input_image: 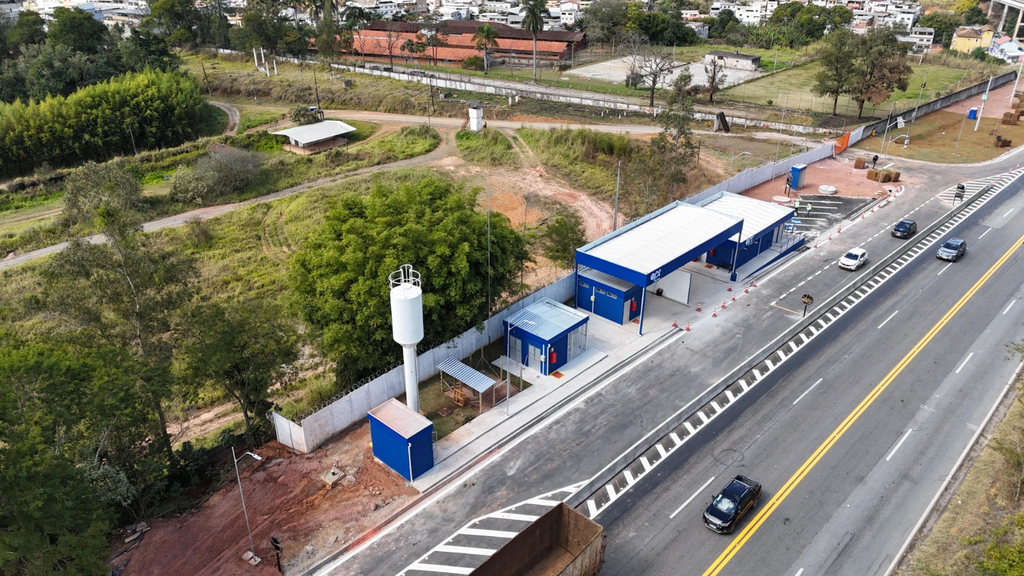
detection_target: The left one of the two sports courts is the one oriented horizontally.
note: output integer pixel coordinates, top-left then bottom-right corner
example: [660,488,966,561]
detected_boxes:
[566,56,687,86]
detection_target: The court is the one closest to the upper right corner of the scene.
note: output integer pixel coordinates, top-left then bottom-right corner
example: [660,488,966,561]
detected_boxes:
[643,62,750,91]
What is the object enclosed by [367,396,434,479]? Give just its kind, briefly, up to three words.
shed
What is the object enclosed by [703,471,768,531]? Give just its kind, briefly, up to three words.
truck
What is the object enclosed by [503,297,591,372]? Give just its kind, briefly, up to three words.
shed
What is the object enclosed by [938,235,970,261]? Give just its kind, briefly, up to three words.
car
